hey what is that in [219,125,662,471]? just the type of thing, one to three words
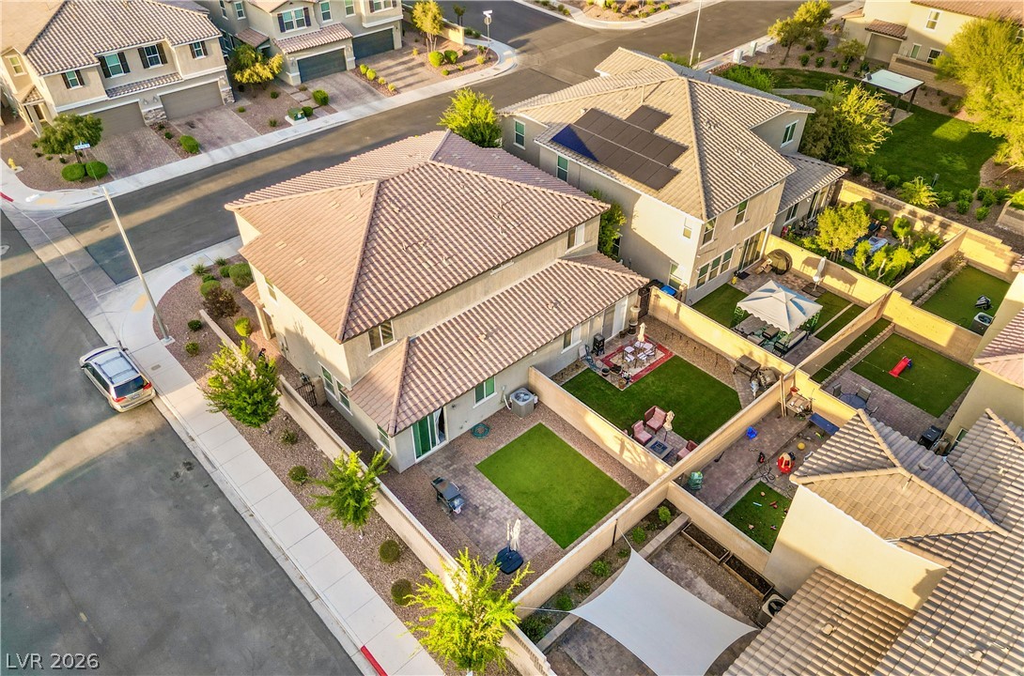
house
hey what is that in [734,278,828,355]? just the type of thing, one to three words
gazebo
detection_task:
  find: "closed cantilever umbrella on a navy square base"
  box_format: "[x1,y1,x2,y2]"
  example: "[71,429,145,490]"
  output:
[493,516,527,571]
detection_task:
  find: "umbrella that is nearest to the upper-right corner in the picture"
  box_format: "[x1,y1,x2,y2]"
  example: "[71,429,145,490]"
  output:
[812,256,825,289]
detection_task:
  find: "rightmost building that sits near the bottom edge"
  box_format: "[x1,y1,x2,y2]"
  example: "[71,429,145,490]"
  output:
[727,407,1024,676]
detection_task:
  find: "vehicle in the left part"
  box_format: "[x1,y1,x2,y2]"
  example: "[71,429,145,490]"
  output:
[84,344,155,414]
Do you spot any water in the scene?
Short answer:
No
